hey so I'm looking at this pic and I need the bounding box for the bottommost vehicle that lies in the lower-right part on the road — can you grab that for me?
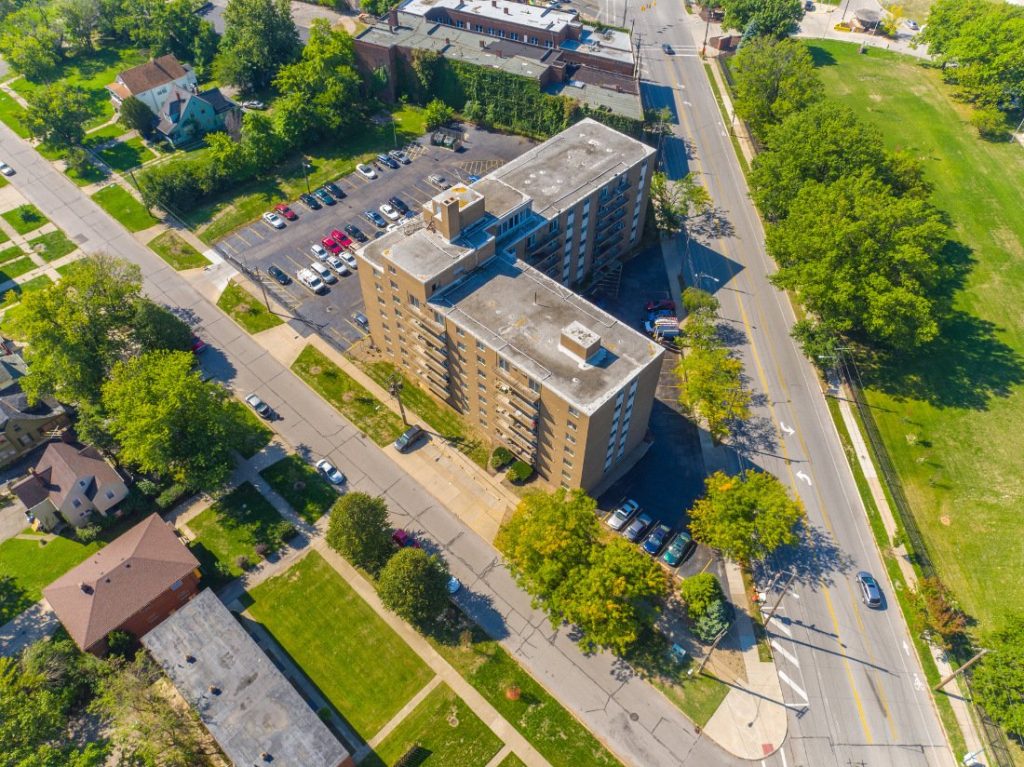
[854,572,884,609]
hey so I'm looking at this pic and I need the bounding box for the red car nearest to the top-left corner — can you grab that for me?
[276,204,296,220]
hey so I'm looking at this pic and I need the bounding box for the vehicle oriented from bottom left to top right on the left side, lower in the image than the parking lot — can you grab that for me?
[394,423,425,450]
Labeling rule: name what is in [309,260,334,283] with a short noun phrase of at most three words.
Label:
car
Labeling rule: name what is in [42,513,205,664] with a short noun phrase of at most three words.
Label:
house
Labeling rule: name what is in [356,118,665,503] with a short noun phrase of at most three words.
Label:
building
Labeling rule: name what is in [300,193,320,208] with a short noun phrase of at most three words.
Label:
car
